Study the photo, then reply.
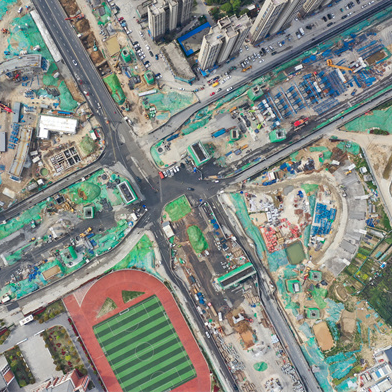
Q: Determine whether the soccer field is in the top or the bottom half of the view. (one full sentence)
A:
The soccer field sits in the bottom half of the picture.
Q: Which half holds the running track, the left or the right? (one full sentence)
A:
It is on the left.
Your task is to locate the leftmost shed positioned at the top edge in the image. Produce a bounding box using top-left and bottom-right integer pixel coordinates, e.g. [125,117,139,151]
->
[29,10,62,62]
